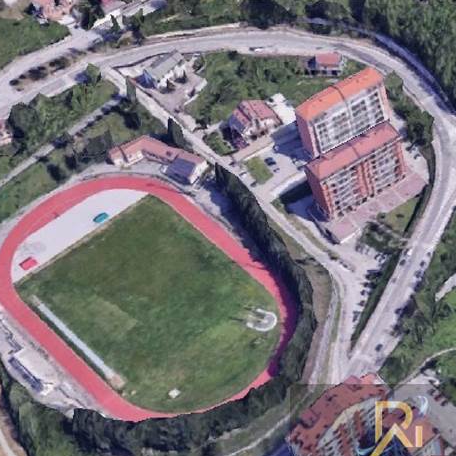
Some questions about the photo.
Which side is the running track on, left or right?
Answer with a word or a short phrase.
left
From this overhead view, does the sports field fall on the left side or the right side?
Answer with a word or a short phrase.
left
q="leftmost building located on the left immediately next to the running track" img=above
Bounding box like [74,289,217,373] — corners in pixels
[106,138,144,170]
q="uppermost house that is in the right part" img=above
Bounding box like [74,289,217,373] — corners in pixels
[316,52,346,73]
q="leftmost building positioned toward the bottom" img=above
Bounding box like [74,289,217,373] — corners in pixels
[277,366,388,456]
